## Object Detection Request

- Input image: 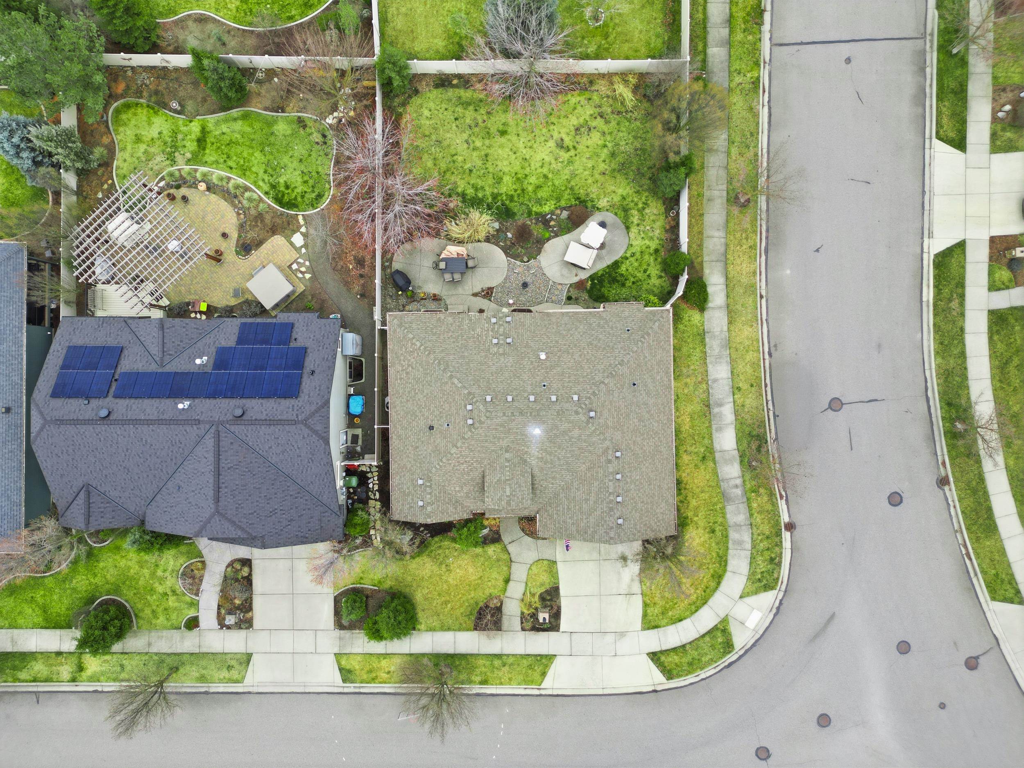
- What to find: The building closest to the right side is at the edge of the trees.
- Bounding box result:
[385,300,679,545]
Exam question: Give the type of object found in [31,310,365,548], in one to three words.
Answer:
house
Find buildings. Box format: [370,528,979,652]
[31,310,365,548]
[385,300,679,545]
